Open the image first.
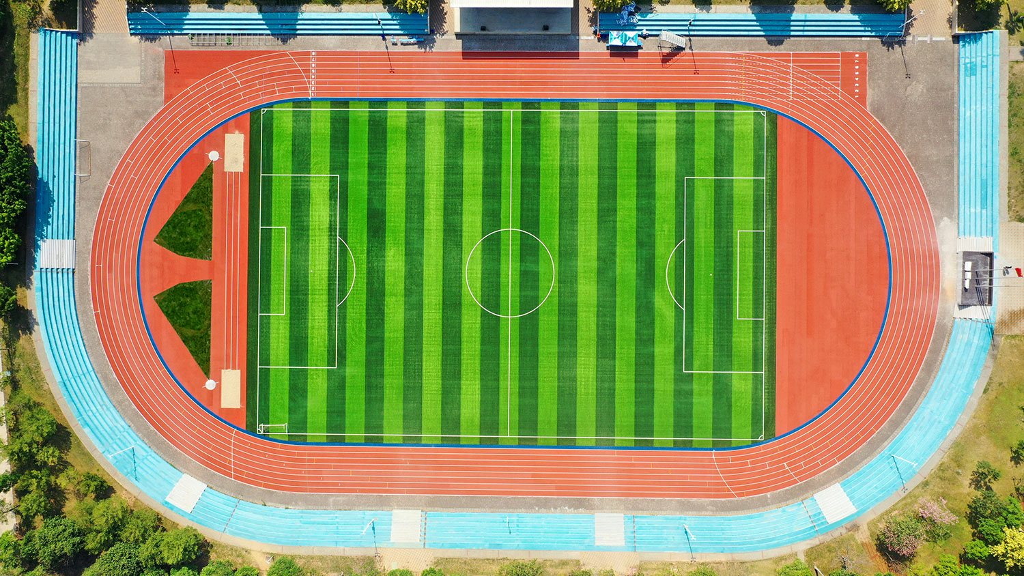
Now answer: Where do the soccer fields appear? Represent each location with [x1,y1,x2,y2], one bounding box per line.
[246,101,777,447]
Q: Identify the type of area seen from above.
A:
sports ground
